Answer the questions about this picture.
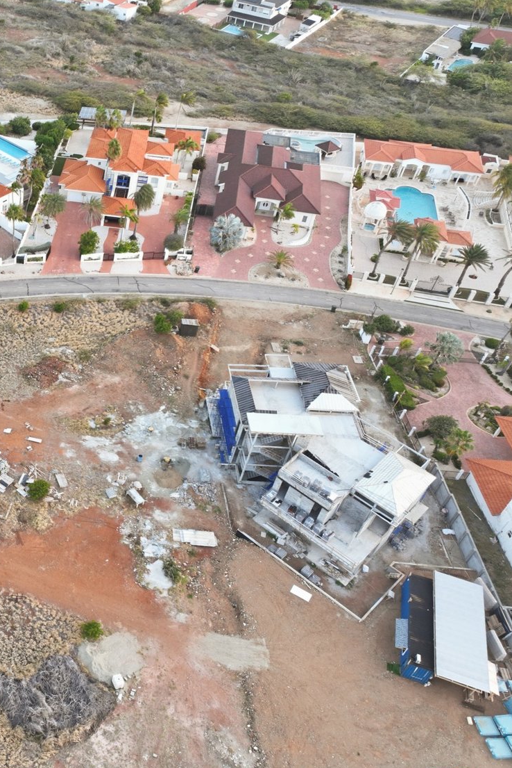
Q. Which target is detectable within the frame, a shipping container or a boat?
shipping container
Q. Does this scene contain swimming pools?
Yes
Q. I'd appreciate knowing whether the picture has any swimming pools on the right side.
Yes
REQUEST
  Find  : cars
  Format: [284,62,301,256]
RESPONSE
[332,0,343,10]
[290,29,304,39]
